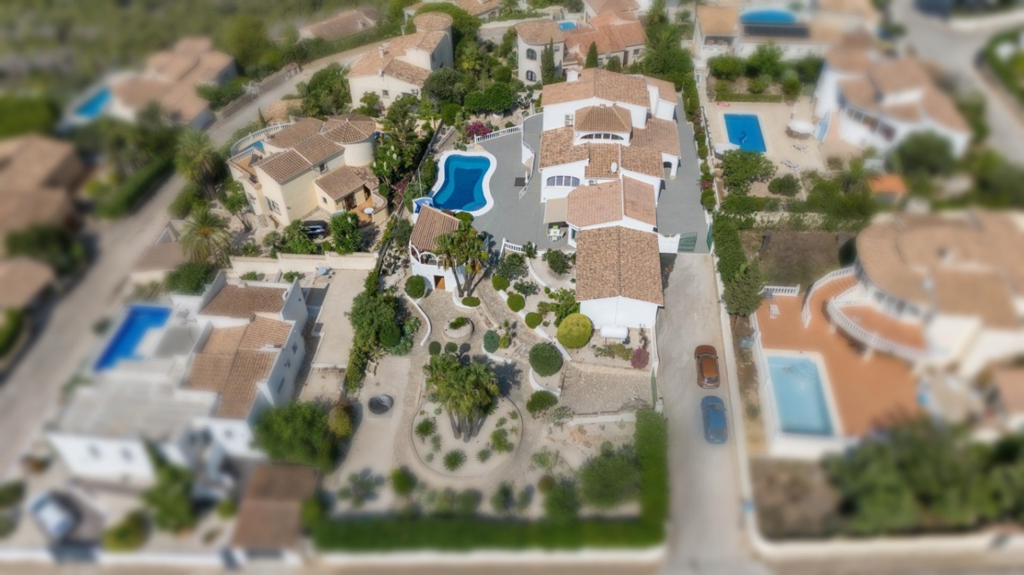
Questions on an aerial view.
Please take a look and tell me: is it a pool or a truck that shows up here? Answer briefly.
pool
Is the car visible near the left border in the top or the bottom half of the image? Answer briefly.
bottom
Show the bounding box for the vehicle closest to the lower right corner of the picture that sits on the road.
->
[701,399,731,446]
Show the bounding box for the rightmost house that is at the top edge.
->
[820,28,968,164]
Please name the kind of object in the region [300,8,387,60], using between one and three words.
house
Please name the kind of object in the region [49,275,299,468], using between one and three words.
house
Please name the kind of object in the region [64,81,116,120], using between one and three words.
swimming pool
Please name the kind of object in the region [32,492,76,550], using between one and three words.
car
